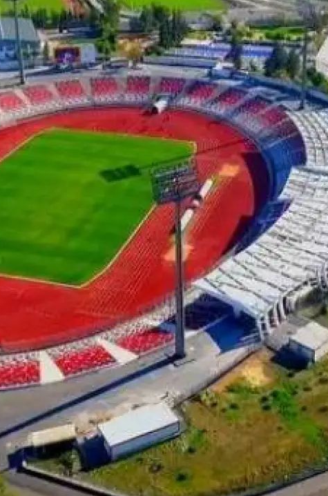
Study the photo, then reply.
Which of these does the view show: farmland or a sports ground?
sports ground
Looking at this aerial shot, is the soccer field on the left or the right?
left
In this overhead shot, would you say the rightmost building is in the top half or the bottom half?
bottom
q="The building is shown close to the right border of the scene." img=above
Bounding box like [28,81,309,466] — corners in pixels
[288,321,328,363]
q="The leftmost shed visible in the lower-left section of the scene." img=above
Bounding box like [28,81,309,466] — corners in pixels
[28,421,77,457]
